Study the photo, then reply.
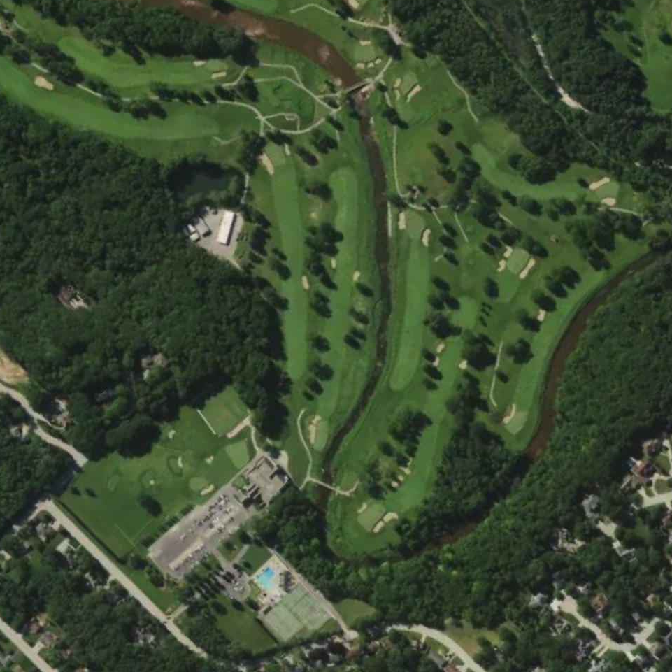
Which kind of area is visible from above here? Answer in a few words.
golf course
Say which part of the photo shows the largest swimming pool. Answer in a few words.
bottom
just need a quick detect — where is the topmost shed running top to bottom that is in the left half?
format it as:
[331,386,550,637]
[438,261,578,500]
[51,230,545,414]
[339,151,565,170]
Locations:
[217,211,234,244]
